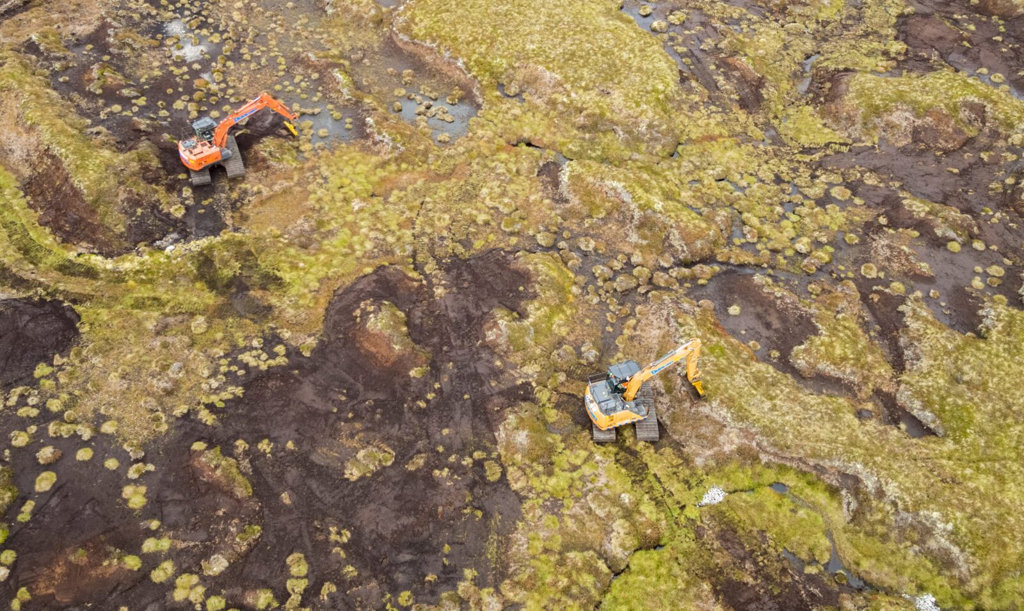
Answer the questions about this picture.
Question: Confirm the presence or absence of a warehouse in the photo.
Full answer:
No, the picture doesn't show any warehouse.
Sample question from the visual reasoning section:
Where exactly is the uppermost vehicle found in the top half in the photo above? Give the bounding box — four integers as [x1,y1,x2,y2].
[179,81,301,186]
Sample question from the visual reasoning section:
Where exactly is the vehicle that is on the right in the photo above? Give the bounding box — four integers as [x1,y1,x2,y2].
[588,335,708,443]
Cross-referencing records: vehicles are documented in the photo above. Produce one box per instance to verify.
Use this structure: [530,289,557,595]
[588,335,708,443]
[179,81,301,186]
